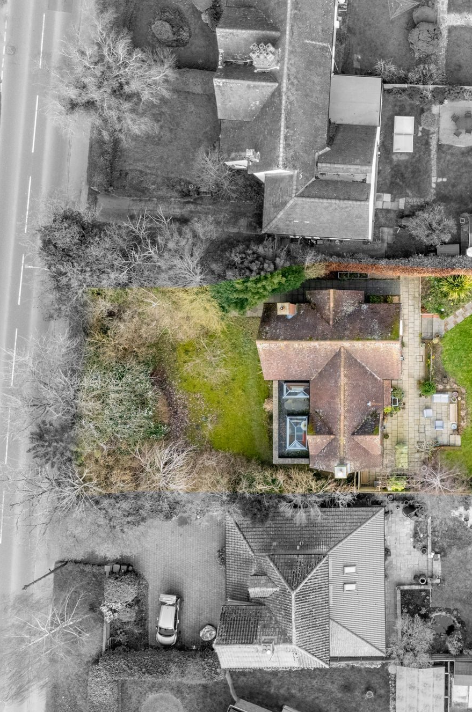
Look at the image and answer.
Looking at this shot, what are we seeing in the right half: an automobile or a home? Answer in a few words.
home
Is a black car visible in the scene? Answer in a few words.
No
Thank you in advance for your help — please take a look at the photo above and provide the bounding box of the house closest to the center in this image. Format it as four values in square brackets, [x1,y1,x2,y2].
[256,289,404,478]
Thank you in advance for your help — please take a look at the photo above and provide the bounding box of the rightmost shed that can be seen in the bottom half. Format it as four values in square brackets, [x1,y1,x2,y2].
[453,667,472,686]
